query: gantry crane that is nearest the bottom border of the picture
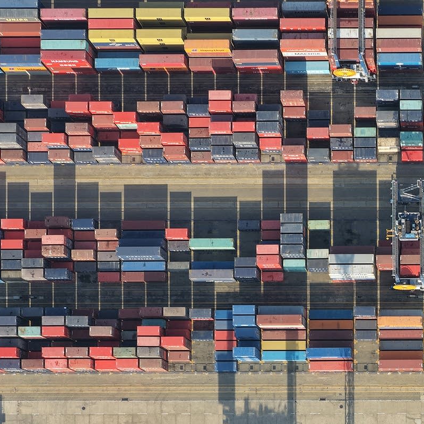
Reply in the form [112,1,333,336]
[387,178,424,296]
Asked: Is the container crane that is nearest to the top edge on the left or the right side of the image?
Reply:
right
